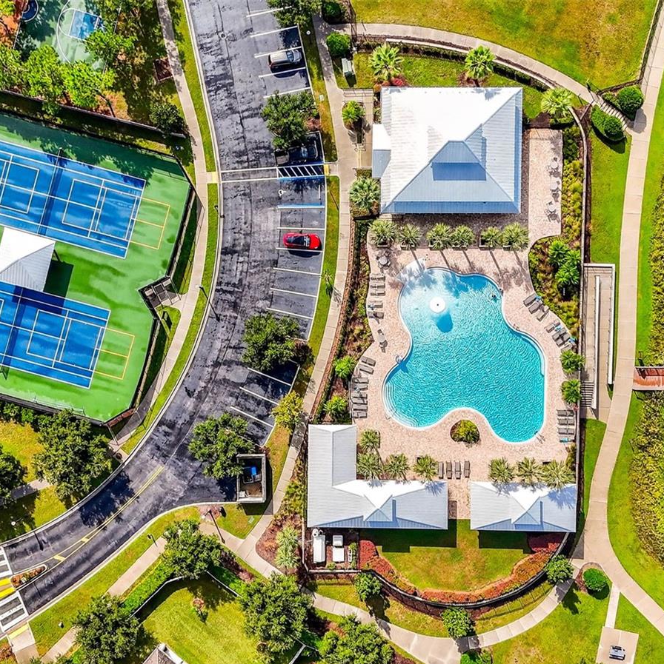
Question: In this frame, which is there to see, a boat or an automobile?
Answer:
automobile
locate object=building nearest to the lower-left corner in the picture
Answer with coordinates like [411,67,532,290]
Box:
[143,642,192,664]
